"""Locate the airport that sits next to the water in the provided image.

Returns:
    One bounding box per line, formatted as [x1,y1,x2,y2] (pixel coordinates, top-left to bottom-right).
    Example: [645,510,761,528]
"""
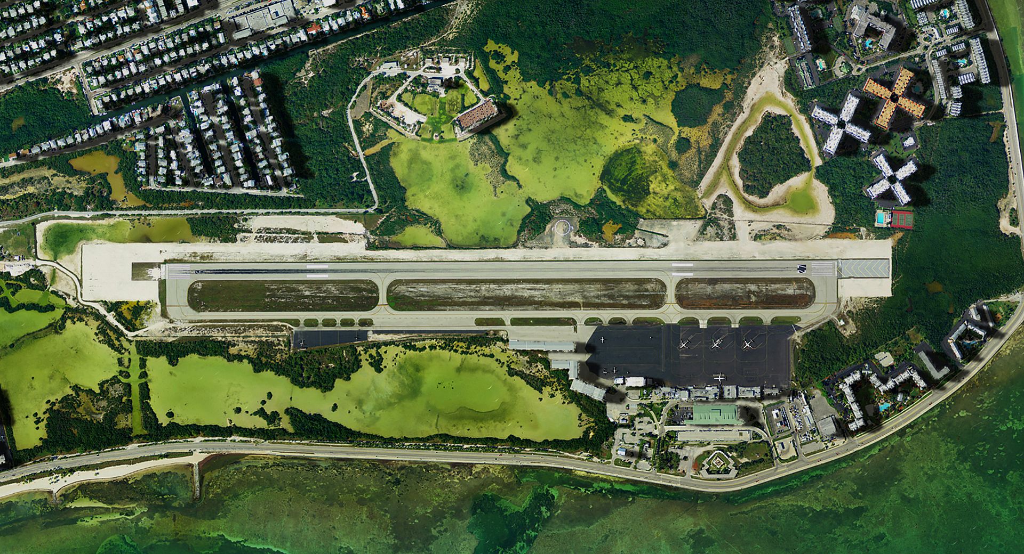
[166,258,890,387]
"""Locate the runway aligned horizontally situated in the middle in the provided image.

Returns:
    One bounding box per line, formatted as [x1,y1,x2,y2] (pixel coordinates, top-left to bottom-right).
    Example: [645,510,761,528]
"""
[166,259,836,279]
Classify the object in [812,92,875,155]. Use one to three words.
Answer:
building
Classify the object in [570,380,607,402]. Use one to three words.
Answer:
hangar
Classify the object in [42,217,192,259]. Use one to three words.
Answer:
pond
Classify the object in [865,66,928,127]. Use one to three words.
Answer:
building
